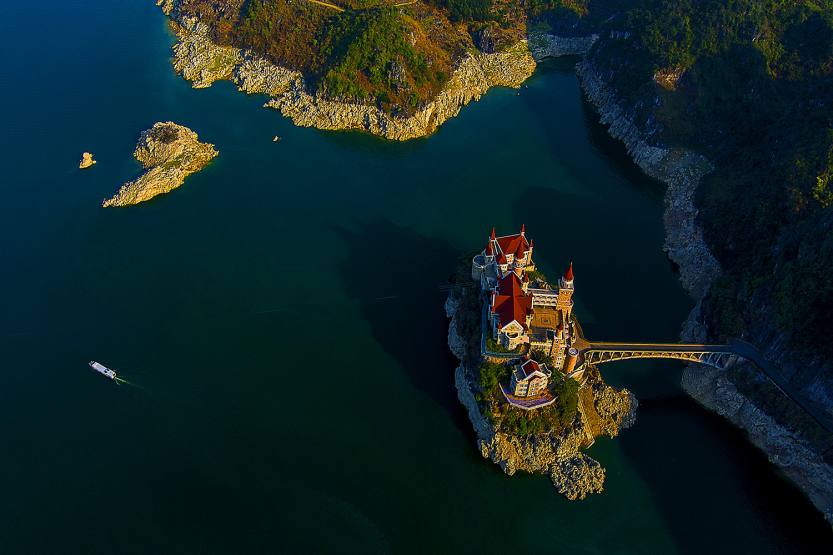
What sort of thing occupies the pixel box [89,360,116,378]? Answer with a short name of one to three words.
boat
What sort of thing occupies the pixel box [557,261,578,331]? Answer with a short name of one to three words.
building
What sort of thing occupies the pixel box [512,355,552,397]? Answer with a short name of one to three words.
house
